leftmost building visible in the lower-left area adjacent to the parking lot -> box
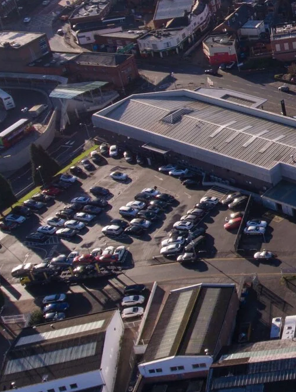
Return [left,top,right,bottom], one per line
[0,309,127,392]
